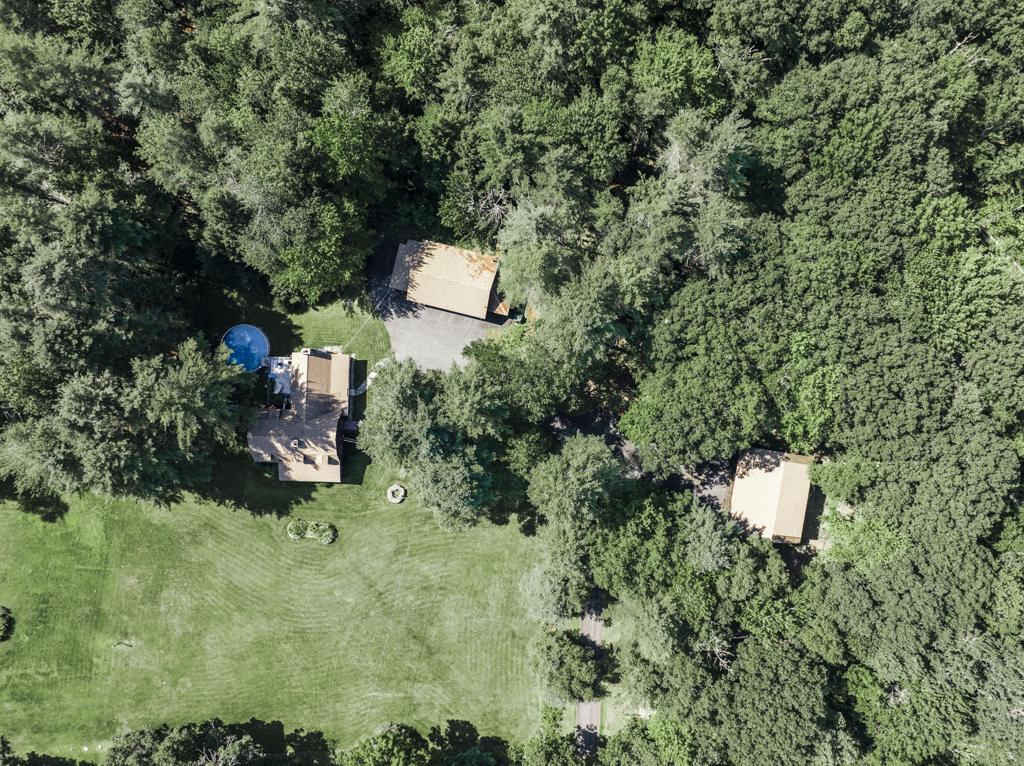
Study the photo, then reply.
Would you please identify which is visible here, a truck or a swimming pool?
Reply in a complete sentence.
The one in the frame is a swimming pool.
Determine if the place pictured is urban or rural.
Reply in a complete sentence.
It looks rural.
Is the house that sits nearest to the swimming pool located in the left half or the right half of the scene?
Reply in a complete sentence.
The house that sits nearest to the swimming pool is on the left side of the image.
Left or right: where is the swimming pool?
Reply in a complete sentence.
The swimming pool sits on the left side.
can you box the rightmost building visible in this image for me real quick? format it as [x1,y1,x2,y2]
[725,447,809,542]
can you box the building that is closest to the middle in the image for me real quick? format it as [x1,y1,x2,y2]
[389,239,508,319]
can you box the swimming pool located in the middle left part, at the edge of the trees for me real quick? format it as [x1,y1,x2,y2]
[220,324,271,372]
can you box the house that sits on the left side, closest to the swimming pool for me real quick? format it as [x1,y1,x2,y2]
[246,347,352,483]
